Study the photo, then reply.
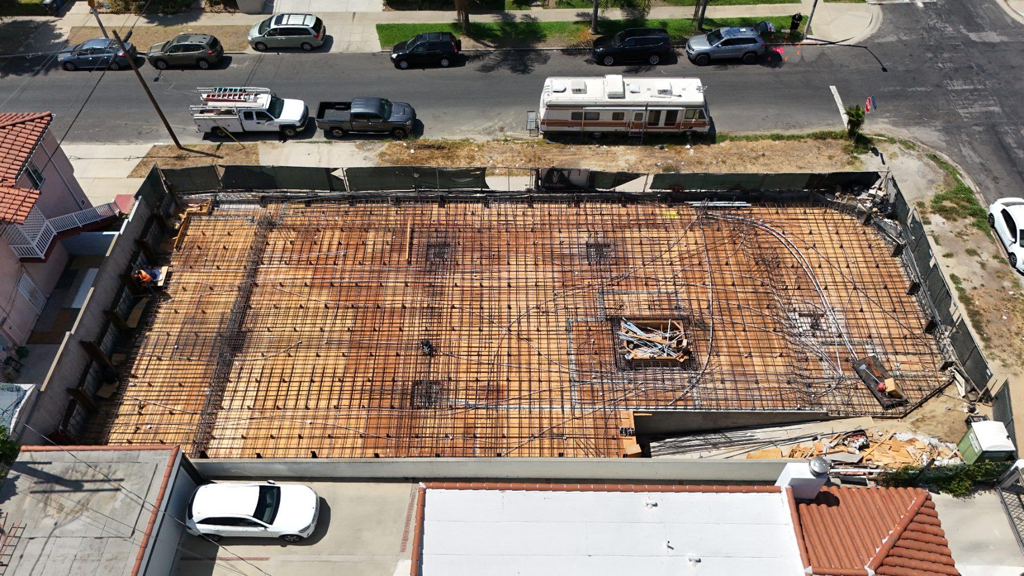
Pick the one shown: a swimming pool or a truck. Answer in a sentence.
It is a truck that can be seen here.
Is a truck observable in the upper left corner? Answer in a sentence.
Yes, you'll find a truck in the upper left corner.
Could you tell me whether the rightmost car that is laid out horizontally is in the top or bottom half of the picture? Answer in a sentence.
Seen from above, the rightmost car that is laid out horizontally lies in the top half of the view.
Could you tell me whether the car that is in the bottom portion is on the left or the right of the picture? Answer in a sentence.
The car that is in the bottom portion is on the left side of the image.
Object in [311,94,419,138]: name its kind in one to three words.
truck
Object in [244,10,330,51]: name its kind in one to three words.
car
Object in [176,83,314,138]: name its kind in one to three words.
truck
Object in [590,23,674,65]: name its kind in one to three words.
car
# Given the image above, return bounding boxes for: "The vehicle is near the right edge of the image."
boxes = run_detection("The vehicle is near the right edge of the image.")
[986,199,1024,275]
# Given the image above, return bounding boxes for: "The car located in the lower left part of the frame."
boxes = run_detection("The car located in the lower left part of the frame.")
[184,475,320,540]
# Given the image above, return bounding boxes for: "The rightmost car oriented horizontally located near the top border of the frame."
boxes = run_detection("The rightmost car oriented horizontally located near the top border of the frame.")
[683,17,786,64]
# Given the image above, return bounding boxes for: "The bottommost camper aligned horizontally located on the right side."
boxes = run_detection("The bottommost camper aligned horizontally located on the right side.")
[534,75,712,146]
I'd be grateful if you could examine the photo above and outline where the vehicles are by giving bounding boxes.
[534,75,712,146]
[986,199,1024,275]
[387,29,465,68]
[683,17,786,64]
[590,23,674,65]
[184,475,320,540]
[311,94,419,138]
[145,30,227,69]
[244,10,330,51]
[54,35,141,71]
[176,83,314,138]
